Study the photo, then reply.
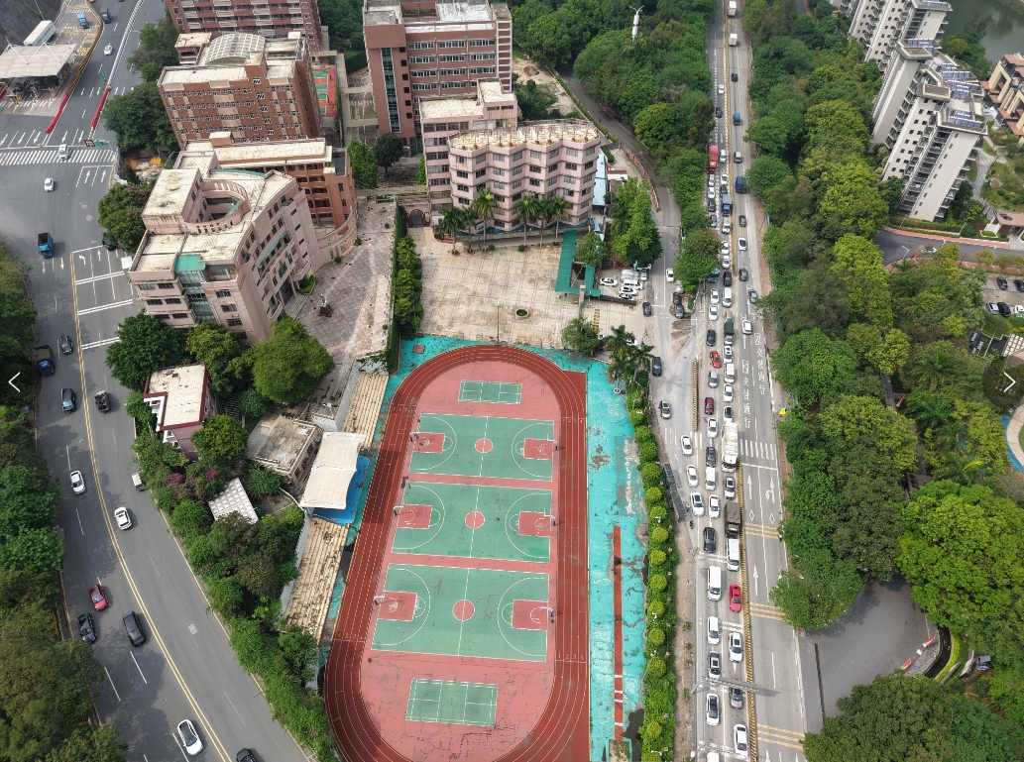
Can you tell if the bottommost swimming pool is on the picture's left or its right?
right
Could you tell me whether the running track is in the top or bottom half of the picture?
bottom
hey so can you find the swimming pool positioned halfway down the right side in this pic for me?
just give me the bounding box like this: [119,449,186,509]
[952,421,1024,480]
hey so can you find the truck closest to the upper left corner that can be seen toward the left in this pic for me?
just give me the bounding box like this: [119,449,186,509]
[23,20,52,44]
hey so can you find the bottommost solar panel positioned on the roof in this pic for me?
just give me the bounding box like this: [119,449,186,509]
[943,97,982,132]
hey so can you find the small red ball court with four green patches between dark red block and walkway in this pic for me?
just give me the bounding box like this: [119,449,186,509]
[311,65,332,116]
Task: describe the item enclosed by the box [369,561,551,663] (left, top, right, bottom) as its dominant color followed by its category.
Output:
green basketball court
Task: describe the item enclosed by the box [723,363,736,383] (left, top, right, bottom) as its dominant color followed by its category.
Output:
white vehicle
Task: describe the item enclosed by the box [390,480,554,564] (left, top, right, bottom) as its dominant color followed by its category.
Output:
green basketball court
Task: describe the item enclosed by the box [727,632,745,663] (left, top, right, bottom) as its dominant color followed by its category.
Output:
white car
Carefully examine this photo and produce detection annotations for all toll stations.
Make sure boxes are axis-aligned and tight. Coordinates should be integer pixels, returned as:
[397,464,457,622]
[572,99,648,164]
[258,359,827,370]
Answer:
[0,21,95,96]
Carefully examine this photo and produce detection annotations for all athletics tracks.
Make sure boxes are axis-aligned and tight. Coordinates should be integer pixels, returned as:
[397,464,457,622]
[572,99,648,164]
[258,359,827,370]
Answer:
[326,345,590,762]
